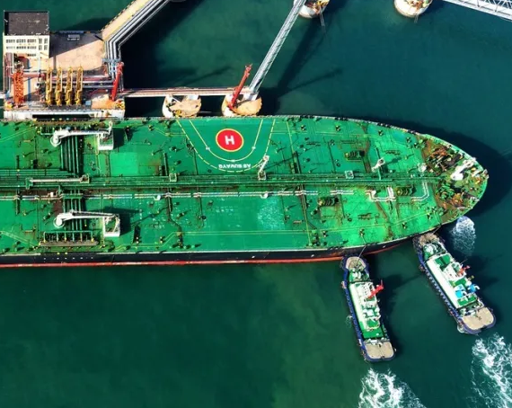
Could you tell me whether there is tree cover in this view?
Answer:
No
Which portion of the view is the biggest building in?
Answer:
top left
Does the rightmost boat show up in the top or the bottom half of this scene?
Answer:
bottom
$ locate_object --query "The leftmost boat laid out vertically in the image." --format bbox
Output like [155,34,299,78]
[339,254,395,363]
